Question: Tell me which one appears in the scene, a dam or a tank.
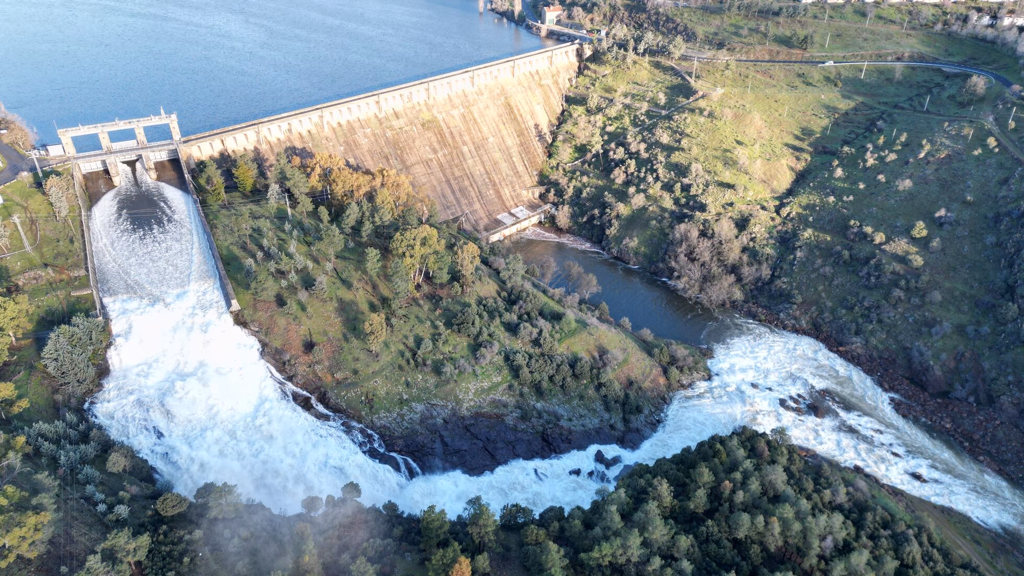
dam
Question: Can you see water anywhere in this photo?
Yes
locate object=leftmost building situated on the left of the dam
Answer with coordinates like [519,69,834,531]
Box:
[36,145,64,161]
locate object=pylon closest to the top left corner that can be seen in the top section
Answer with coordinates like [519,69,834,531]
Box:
[28,151,46,185]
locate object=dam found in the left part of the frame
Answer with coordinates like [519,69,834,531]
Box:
[178,37,588,241]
